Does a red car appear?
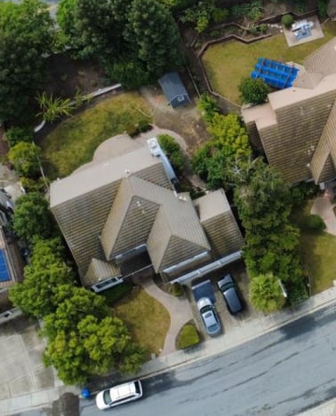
No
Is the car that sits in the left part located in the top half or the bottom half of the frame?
bottom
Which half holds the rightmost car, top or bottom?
bottom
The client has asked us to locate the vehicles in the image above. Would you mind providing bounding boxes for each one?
[221,274,243,314]
[95,381,144,410]
[197,297,221,336]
